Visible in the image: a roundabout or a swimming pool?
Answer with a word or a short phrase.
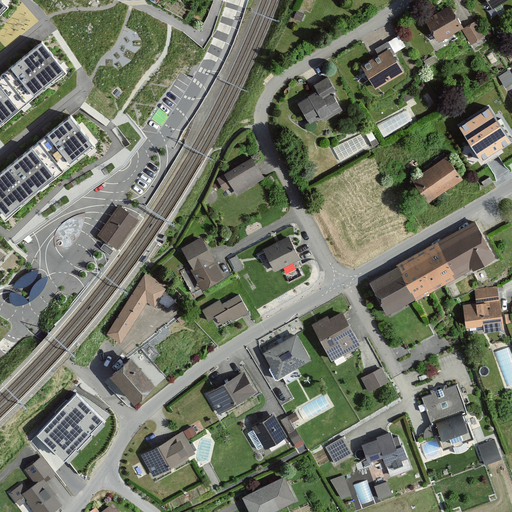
swimming pool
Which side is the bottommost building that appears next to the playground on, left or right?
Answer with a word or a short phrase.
left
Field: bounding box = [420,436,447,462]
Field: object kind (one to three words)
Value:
swimming pool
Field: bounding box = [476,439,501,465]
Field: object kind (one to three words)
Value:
building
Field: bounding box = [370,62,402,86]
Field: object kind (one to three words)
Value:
solar panel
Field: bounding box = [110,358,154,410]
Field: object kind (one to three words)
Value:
house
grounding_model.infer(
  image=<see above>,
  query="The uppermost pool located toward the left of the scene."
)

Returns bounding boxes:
[195,431,214,467]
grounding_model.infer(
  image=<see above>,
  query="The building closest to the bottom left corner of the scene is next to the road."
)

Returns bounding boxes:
[8,456,70,512]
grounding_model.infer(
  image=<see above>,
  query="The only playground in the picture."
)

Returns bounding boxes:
[0,3,38,46]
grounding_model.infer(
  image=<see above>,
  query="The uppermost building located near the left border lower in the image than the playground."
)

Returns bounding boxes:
[0,42,68,130]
